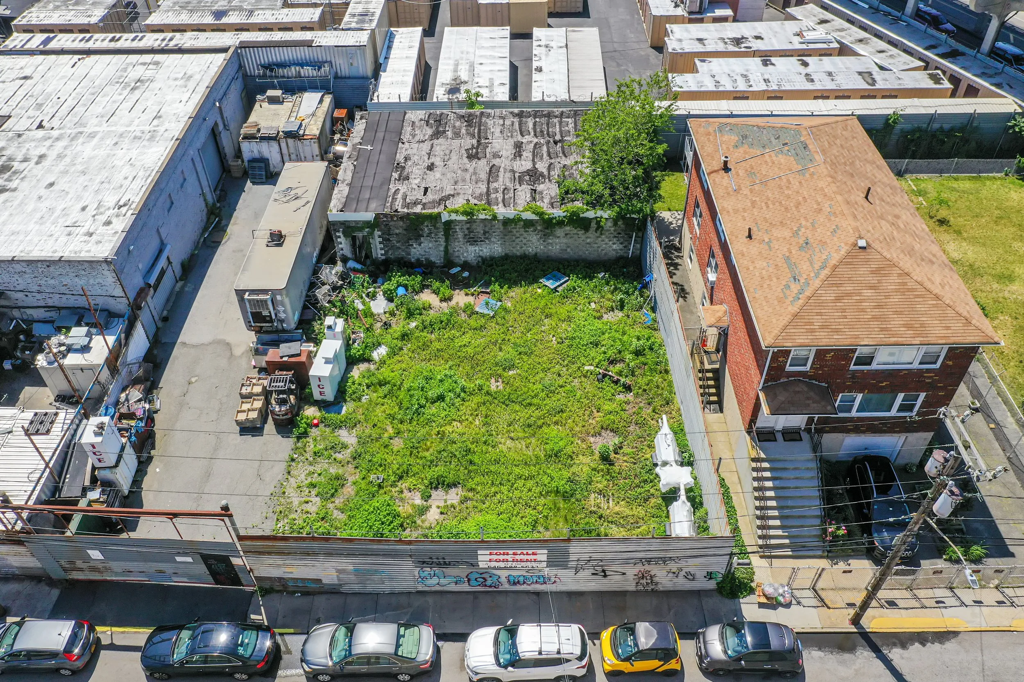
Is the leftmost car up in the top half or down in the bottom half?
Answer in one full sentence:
The leftmost car sits in the bottom half of the picture.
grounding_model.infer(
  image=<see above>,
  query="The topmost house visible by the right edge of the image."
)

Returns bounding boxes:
[657,115,1008,557]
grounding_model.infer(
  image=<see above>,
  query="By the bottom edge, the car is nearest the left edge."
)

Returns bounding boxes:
[0,617,114,680]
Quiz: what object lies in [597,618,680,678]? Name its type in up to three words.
car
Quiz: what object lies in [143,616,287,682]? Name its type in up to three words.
car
